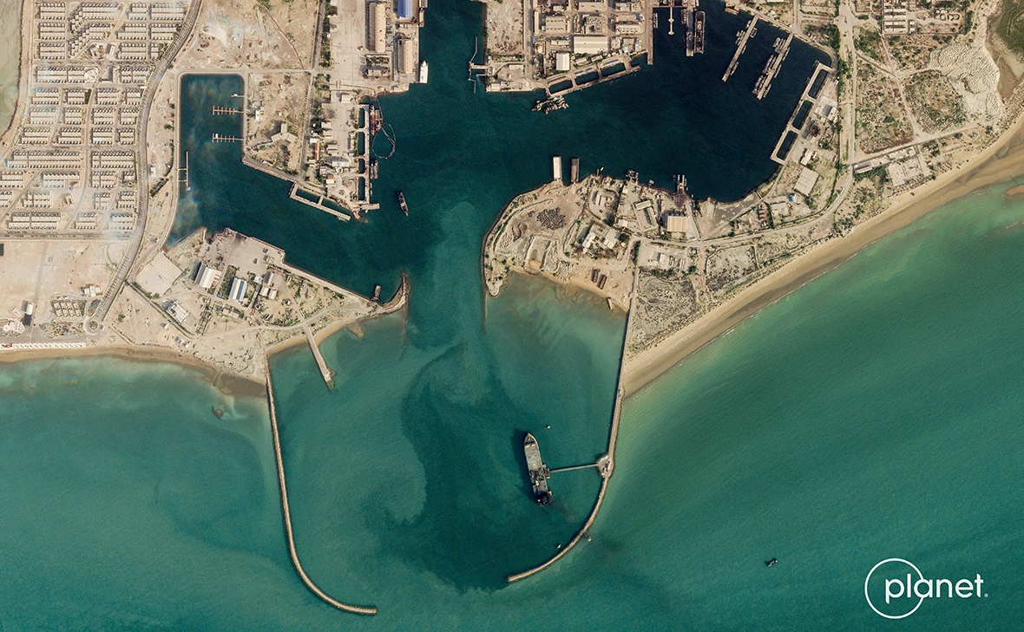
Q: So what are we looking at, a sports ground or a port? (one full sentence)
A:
The picture captures a port.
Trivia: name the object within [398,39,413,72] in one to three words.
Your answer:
building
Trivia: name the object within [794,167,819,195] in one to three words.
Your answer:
building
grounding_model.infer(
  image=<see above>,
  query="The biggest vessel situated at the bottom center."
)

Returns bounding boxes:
[523,433,548,508]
